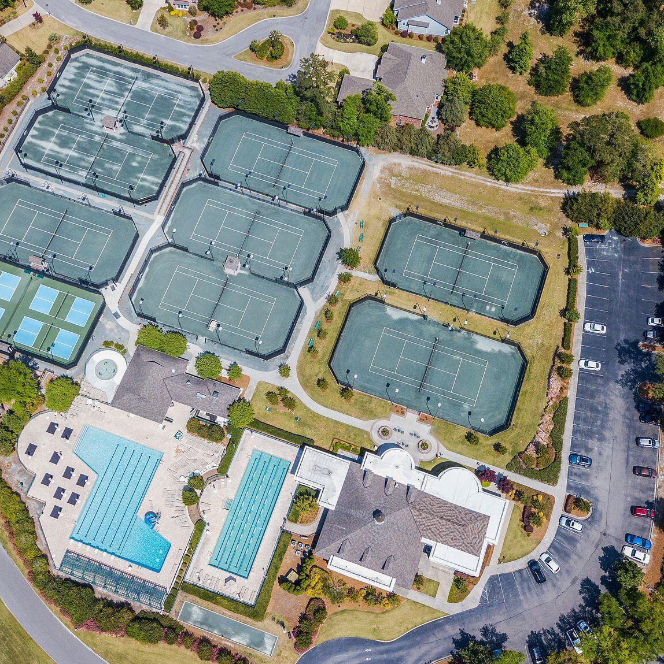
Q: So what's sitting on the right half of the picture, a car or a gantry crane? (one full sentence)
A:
The feature located on the right half of the picture is a car.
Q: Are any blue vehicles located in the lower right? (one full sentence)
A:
Yes, a blue vehicle shows up in the lower right.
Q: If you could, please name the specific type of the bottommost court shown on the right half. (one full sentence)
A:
In the photo, the bottommost court shown on the right half shows up as a tennis court.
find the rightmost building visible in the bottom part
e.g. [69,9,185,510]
[294,445,509,593]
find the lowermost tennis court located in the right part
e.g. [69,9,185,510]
[330,295,531,436]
